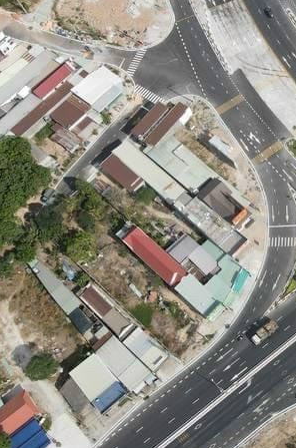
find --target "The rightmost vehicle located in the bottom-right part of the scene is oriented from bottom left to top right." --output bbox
[250,316,279,344]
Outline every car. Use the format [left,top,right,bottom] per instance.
[40,187,54,200]
[264,6,274,18]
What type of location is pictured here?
residential area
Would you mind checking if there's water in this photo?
No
